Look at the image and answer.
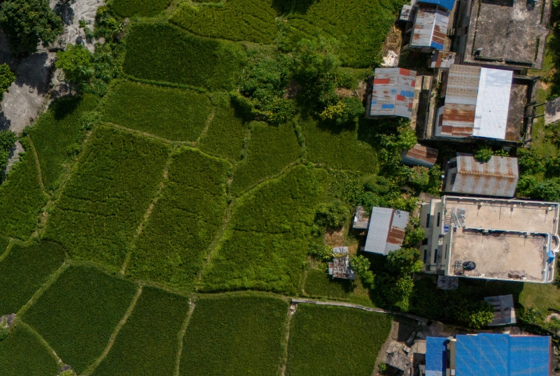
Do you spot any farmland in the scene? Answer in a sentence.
Yes, there's farmland in this view.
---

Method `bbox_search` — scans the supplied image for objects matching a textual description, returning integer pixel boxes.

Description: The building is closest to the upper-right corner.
[451,0,551,74]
